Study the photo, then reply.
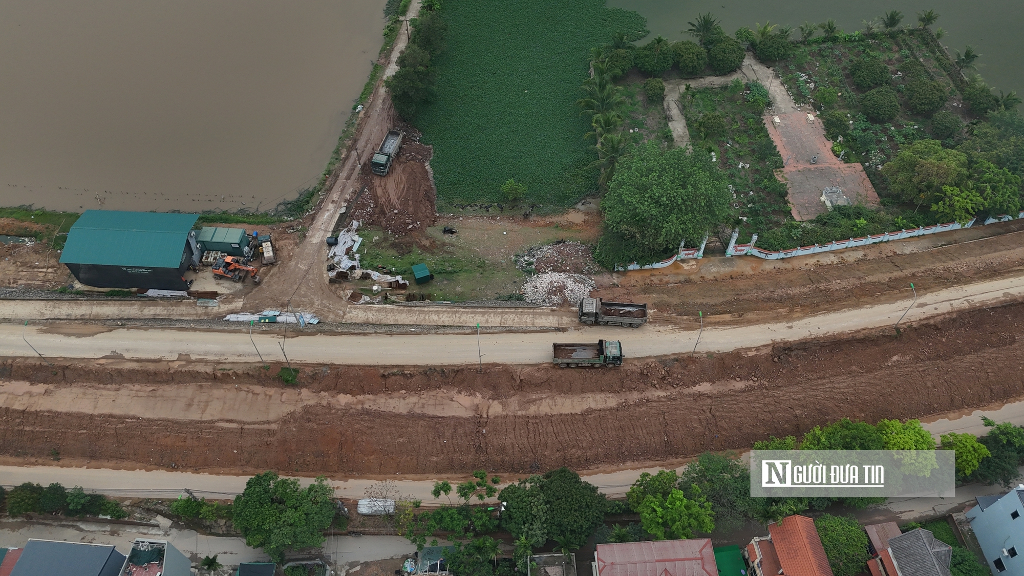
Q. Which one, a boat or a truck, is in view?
truck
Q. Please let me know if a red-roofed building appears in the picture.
Yes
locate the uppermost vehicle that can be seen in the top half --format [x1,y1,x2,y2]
[367,128,404,174]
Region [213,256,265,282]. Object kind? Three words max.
work vehicle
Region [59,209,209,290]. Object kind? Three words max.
building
